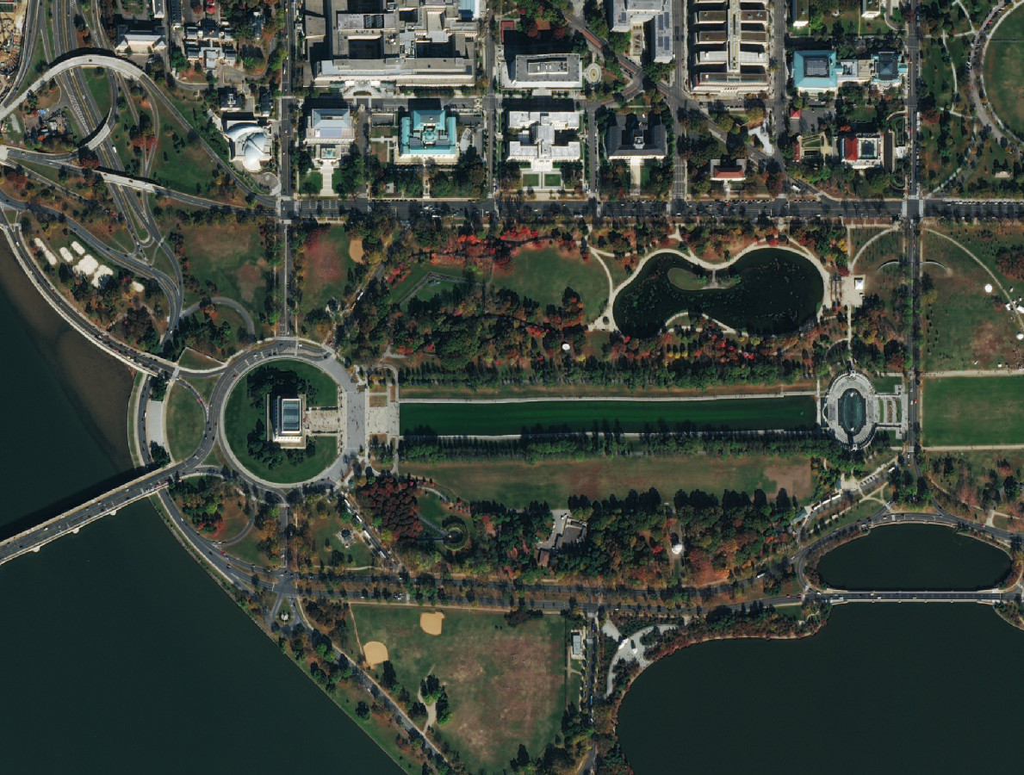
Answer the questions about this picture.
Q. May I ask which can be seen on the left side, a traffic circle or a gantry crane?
traffic circle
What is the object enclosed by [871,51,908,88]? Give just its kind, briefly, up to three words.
building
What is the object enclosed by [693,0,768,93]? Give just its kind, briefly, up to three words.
building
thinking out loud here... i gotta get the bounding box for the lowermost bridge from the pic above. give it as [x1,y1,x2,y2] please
[825,587,999,605]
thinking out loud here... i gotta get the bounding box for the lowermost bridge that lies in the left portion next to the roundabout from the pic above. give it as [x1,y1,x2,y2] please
[0,467,177,570]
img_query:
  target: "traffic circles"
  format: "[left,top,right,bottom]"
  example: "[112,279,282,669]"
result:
[208,344,328,496]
